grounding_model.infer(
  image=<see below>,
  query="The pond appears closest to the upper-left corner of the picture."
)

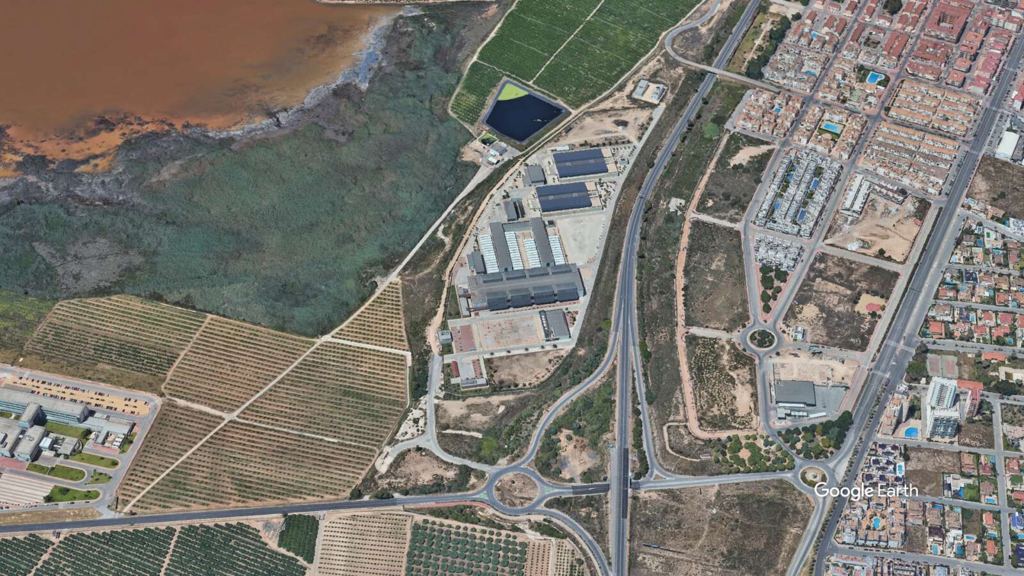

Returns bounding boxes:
[0,0,430,180]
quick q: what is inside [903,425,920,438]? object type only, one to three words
swimming pool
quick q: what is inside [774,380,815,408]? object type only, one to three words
building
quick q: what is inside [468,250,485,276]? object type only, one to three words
building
